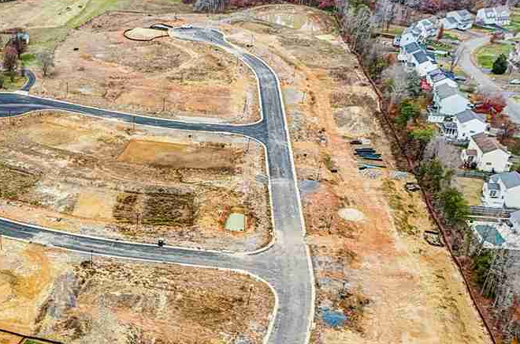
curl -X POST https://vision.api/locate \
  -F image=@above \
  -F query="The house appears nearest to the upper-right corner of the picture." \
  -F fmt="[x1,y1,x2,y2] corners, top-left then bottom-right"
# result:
[476,7,516,28]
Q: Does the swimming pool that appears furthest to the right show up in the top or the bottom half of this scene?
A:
bottom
